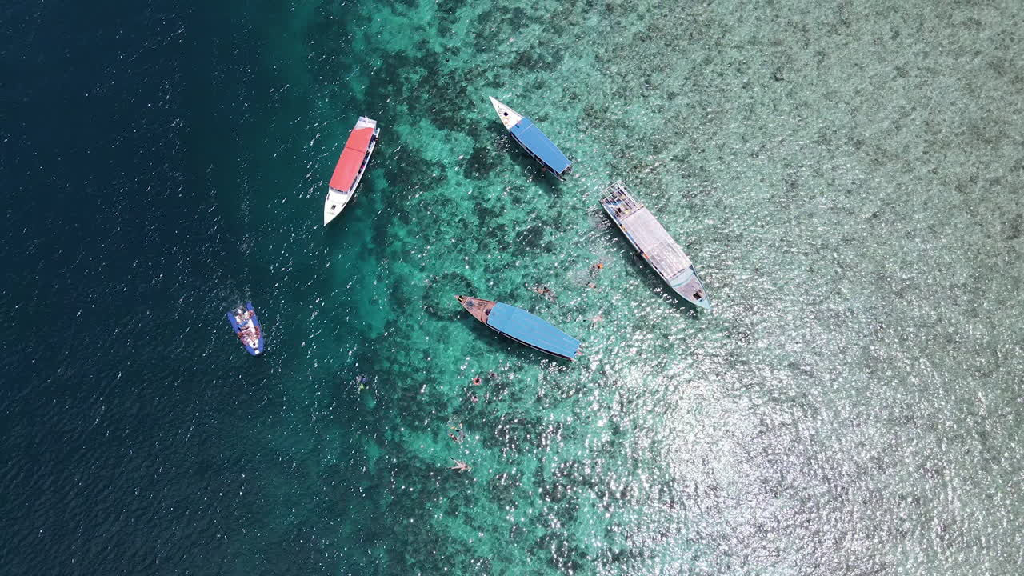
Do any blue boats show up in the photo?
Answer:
Yes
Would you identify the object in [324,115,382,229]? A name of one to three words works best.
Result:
boat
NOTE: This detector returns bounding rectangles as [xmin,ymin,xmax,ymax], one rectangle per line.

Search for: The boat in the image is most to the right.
[597,182,711,313]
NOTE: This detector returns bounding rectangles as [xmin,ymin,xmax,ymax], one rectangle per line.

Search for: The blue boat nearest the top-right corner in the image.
[489,95,575,184]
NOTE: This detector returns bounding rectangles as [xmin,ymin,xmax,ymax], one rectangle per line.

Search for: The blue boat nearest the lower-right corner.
[454,294,581,364]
